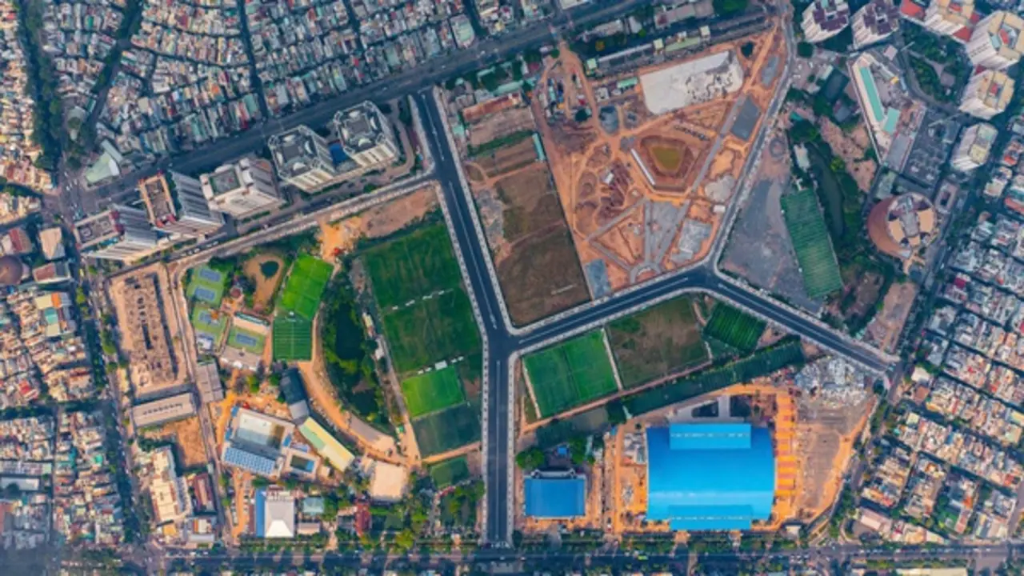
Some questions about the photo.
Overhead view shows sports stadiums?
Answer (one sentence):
Yes, the image includes a sports stadium.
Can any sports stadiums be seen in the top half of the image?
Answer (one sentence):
No, no sports stadium appears in the top half of the image.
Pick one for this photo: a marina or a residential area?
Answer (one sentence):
It's a residential area.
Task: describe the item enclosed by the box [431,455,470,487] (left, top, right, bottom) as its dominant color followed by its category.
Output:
green sports field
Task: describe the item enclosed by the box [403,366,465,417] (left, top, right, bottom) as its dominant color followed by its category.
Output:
green soccer field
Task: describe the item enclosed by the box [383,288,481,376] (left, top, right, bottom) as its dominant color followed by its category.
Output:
green sports field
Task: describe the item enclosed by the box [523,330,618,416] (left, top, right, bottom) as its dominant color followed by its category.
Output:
green soccer field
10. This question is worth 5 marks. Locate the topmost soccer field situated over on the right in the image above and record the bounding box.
[780,188,844,299]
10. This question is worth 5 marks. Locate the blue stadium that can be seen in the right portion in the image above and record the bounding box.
[646,421,777,532]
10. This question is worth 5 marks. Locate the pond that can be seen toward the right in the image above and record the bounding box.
[634,134,702,190]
